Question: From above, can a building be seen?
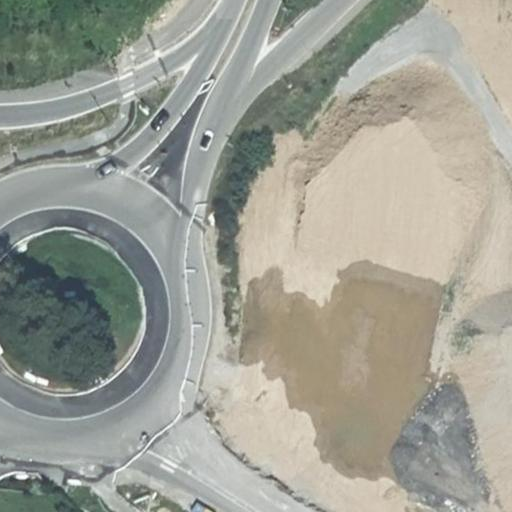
No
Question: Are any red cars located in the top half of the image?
No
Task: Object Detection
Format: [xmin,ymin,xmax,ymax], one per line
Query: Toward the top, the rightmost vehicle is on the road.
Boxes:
[200,129,213,151]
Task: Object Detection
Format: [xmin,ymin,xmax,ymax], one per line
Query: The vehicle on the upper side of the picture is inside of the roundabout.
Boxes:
[96,160,118,177]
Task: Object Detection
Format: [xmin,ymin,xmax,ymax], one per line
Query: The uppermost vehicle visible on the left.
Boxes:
[150,108,170,130]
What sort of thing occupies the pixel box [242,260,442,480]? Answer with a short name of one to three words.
pond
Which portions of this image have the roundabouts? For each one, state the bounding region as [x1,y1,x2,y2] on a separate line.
[0,152,192,481]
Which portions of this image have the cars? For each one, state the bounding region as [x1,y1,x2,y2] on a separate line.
[150,108,170,130]
[96,160,118,177]
[200,129,213,151]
